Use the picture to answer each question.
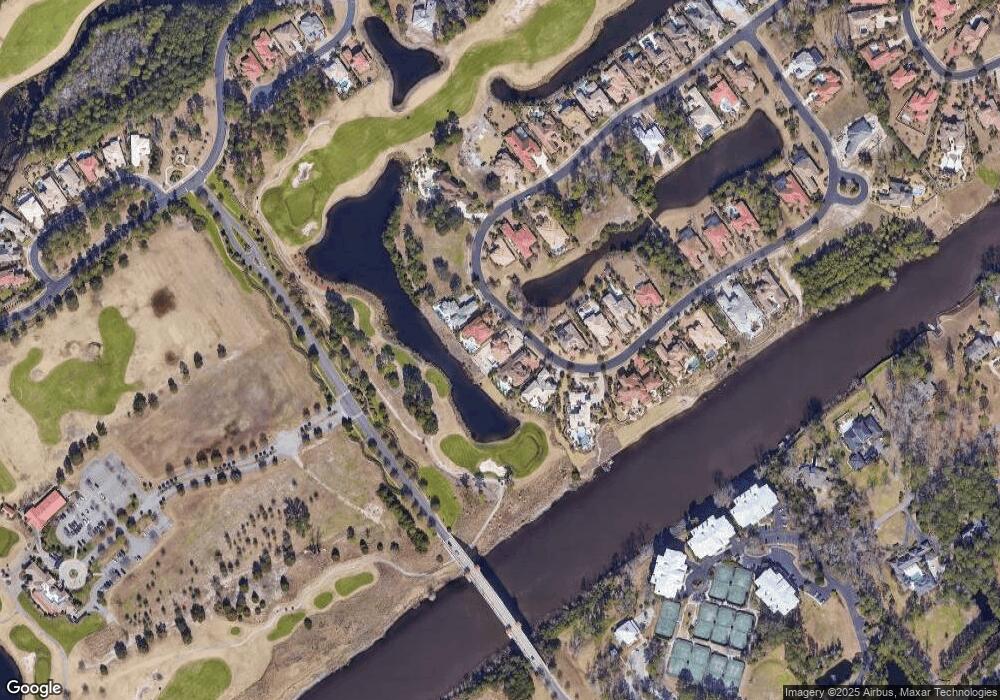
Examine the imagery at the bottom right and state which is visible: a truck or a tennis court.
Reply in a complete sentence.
It is a tennis court that can be seen at the bottom right.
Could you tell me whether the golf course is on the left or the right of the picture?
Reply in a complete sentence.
It is on the left.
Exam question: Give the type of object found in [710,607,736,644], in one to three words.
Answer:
tennis court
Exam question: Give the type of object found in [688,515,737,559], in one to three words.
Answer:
building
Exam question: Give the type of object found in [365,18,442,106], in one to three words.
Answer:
pond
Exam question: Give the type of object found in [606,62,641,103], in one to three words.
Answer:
house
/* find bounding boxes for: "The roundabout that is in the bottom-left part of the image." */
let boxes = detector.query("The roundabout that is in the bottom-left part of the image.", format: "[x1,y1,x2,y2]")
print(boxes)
[58,558,88,590]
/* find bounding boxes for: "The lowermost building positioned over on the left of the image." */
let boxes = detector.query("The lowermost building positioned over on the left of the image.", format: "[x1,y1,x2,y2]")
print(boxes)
[27,563,77,615]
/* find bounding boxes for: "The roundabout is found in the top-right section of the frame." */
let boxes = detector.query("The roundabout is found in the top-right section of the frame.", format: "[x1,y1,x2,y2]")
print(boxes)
[830,168,868,206]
